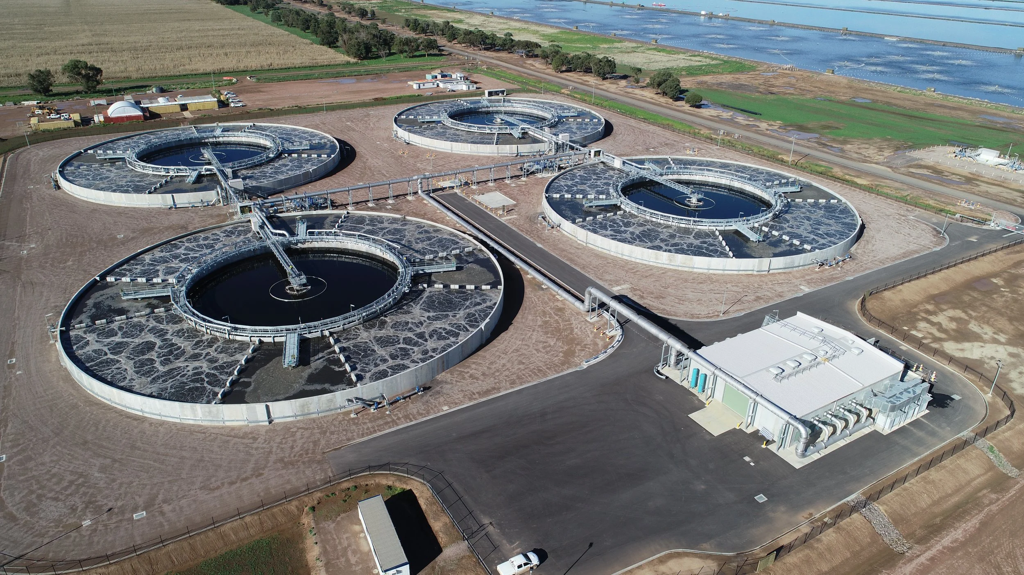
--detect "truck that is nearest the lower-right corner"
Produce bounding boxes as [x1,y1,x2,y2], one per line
[498,551,544,575]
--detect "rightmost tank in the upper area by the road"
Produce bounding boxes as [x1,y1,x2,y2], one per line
[539,156,861,274]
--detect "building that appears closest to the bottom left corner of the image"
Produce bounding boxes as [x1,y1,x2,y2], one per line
[357,494,410,575]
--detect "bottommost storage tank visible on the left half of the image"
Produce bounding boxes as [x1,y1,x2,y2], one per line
[58,212,504,425]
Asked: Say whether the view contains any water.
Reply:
Yes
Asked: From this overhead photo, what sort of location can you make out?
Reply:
industrial area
